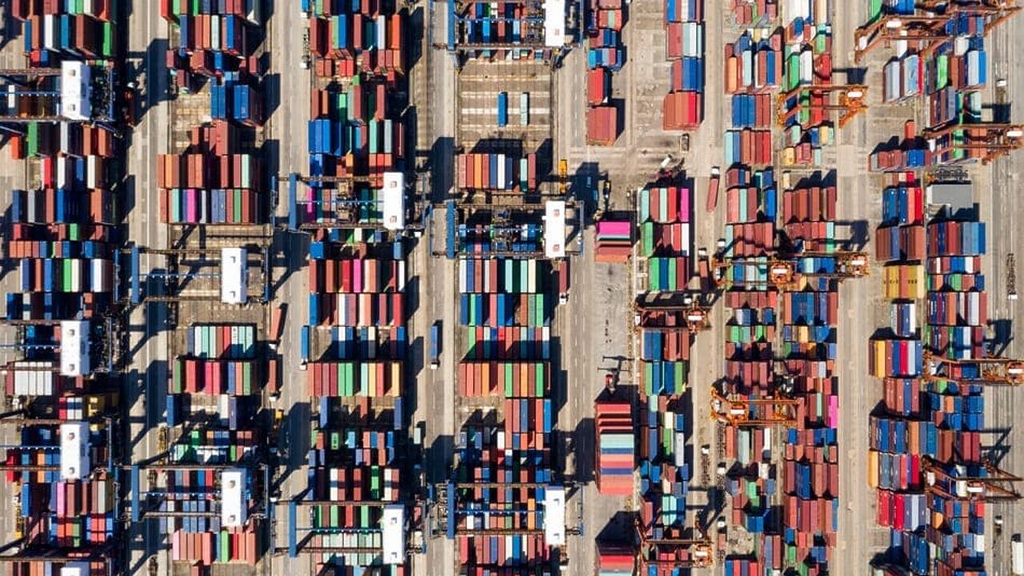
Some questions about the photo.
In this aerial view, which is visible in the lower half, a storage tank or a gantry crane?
gantry crane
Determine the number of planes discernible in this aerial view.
0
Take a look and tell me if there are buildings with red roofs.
No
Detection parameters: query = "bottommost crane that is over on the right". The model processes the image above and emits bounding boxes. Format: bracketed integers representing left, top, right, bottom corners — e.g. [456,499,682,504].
[633,517,716,566]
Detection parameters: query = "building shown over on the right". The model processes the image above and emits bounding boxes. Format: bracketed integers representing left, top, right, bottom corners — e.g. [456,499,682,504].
[933,186,982,215]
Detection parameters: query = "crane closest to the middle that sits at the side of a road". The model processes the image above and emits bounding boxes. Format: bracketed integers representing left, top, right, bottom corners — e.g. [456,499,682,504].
[431,199,583,263]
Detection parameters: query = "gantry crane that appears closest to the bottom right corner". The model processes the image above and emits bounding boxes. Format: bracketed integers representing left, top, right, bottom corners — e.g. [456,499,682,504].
[923,458,1024,502]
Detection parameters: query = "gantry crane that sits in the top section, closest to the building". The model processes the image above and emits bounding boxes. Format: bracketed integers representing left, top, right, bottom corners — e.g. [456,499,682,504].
[923,121,1024,162]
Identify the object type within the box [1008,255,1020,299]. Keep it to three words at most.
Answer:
vehicle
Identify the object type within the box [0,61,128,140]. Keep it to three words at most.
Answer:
crane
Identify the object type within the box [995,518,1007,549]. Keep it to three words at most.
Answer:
vehicle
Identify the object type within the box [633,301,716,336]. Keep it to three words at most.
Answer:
container crane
